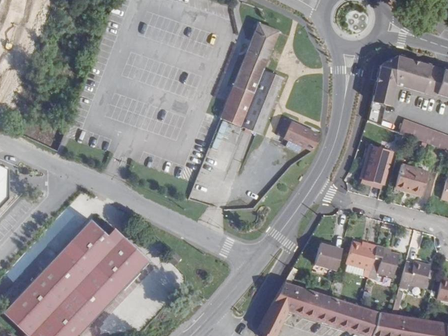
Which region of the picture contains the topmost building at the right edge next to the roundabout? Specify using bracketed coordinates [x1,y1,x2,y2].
[374,55,436,108]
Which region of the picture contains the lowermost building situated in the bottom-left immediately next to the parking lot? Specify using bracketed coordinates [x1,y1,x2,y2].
[4,220,150,336]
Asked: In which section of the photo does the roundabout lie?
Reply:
top right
